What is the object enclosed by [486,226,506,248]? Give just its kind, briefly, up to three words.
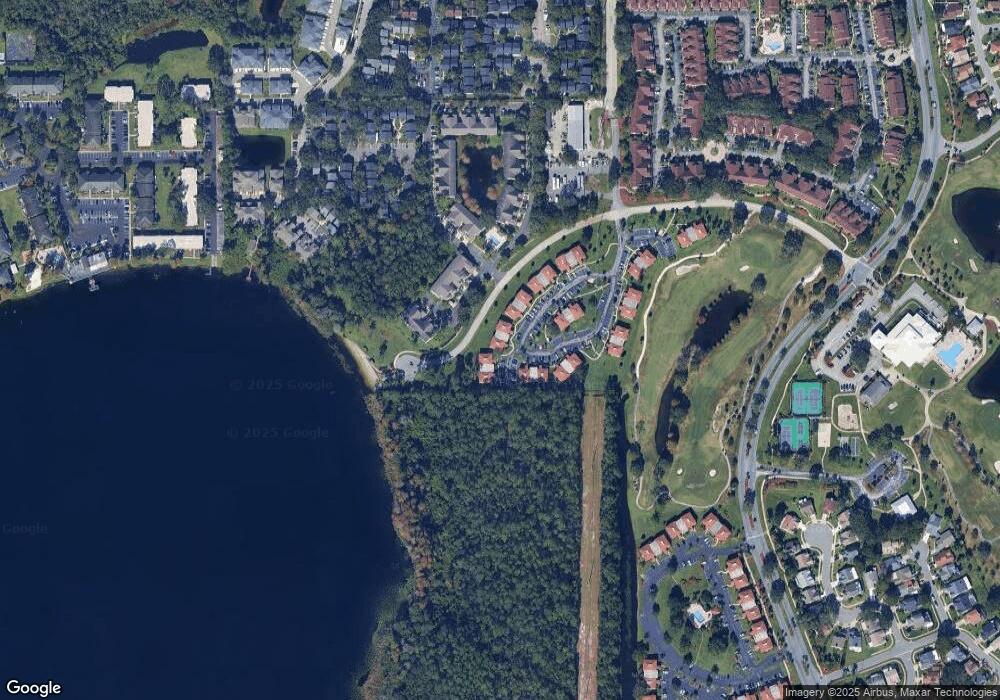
swimming pool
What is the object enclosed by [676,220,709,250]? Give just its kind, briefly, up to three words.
house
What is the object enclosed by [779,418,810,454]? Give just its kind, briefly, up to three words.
tennis court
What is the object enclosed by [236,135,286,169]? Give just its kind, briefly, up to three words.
pond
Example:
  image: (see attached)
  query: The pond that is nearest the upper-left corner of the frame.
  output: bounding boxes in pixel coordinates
[116,30,208,68]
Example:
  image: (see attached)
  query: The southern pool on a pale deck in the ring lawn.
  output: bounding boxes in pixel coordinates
[688,604,711,627]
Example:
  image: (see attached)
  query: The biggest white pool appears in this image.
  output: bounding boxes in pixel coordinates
[932,327,981,378]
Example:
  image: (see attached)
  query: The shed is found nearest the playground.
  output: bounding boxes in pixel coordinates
[860,375,892,405]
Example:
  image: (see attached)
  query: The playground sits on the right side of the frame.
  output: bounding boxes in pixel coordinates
[838,405,858,430]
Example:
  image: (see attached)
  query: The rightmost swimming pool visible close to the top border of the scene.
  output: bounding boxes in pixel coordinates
[762,23,785,54]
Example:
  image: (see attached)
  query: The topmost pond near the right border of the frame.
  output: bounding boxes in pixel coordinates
[951,186,1000,263]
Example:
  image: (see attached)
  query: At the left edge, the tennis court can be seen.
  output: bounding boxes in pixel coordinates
[5,32,36,61]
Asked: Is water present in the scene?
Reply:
Yes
